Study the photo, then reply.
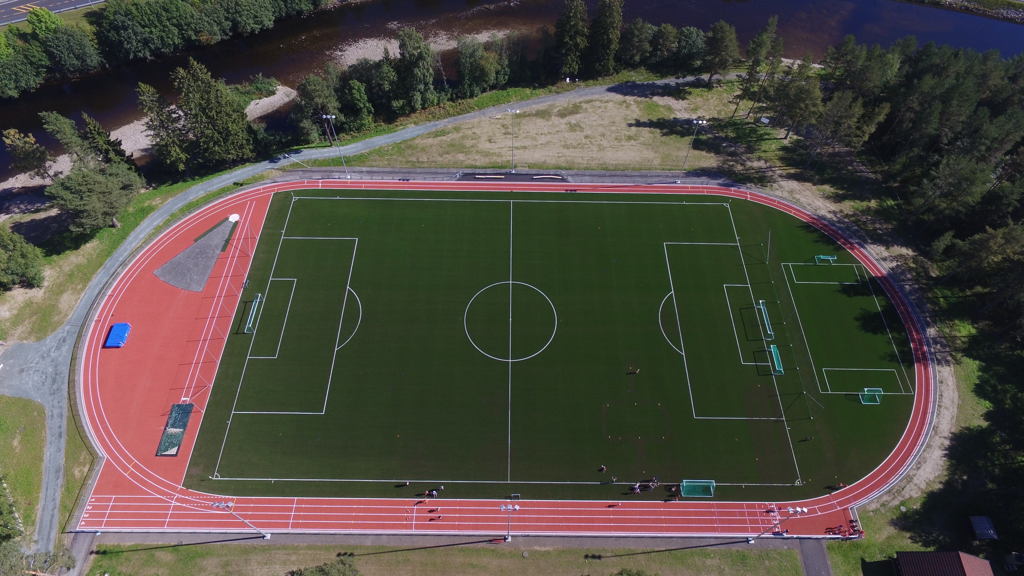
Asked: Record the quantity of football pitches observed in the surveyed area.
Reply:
2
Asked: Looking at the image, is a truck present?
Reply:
No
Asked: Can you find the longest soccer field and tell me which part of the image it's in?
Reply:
center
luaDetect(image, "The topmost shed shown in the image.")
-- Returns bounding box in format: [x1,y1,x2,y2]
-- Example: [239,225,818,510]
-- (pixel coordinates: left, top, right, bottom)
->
[963,516,998,542]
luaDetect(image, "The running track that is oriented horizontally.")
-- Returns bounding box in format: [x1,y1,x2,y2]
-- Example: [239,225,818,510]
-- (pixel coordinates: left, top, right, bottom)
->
[77,179,935,537]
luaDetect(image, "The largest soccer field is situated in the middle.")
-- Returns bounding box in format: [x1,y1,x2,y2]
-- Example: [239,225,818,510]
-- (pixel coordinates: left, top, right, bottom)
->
[181,188,919,502]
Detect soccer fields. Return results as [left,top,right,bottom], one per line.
[181,188,919,502]
[782,263,914,393]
